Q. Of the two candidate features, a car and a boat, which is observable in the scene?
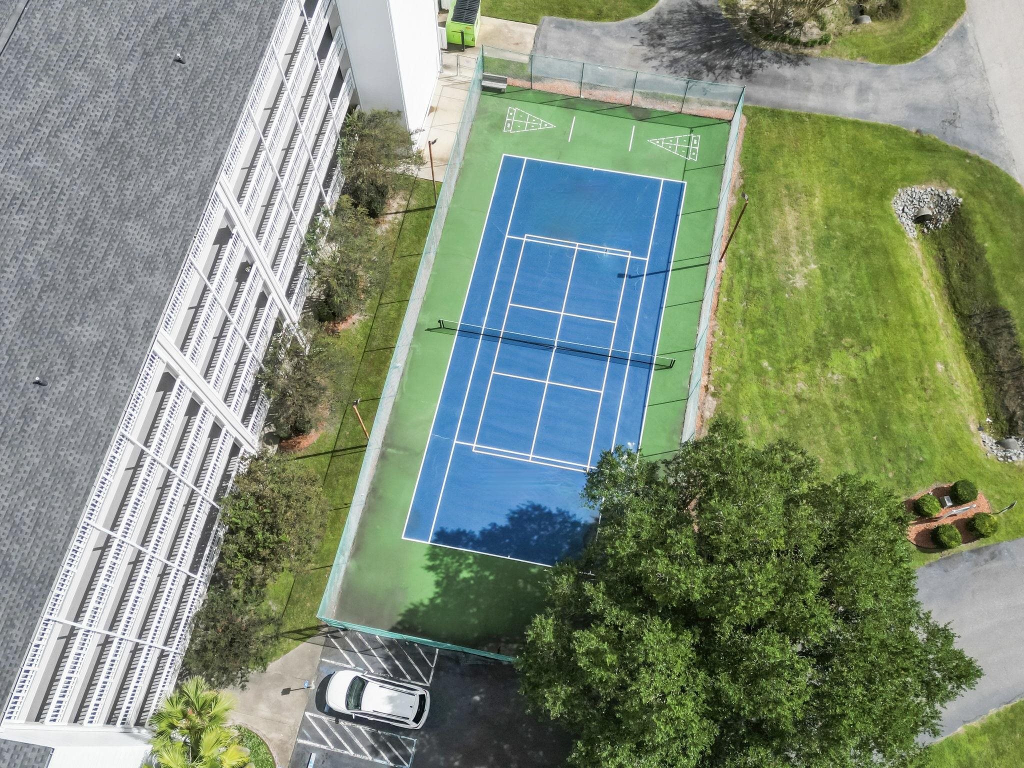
car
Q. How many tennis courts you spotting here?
one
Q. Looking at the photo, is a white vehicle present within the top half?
No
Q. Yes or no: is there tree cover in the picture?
Yes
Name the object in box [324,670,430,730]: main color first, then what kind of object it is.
white car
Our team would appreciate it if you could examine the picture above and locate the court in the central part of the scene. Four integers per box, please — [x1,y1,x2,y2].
[333,85,732,672]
